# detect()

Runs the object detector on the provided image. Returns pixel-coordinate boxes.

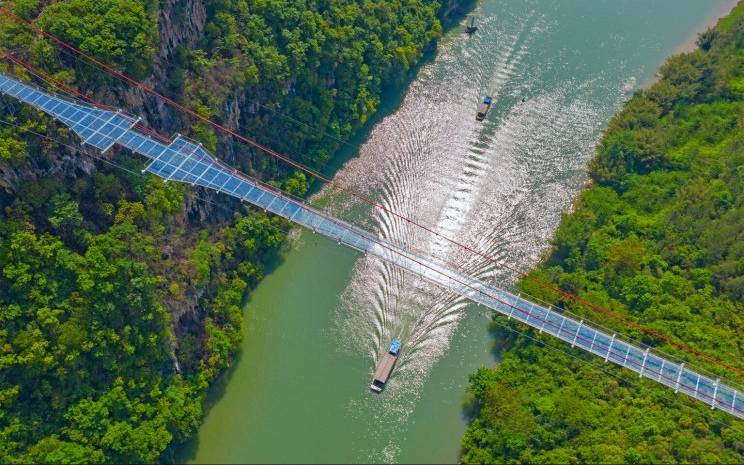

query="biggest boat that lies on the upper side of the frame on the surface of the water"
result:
[477,95,490,120]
